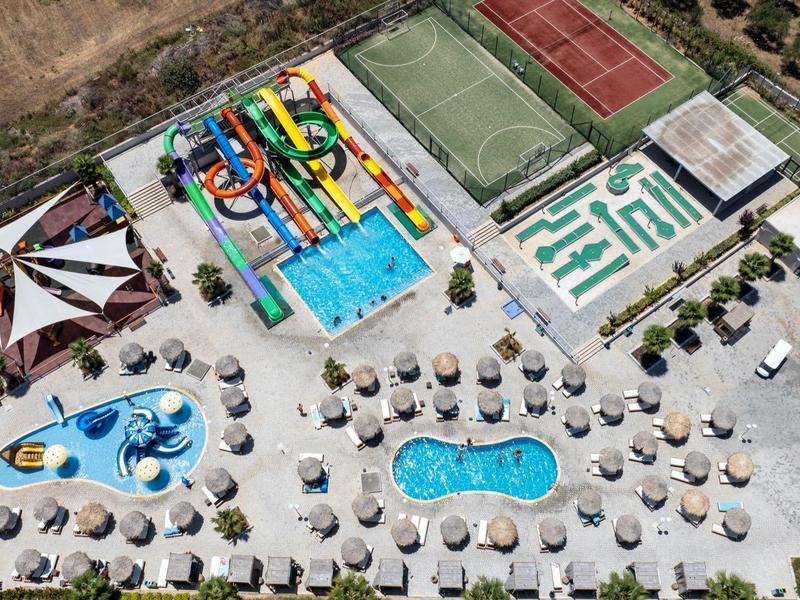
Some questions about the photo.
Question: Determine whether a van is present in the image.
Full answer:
Yes, there's a van down there.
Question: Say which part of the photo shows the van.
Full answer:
The van sits in the right section of the image.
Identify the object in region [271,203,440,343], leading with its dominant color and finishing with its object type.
blue swimming pool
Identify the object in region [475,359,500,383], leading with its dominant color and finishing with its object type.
gray umbrella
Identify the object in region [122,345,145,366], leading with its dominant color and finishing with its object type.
gray umbrella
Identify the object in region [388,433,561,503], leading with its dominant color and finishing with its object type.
blue swimming pool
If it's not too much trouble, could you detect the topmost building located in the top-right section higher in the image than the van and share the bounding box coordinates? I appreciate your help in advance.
[641,95,788,214]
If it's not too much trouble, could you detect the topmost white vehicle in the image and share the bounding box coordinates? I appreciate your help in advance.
[755,340,792,380]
